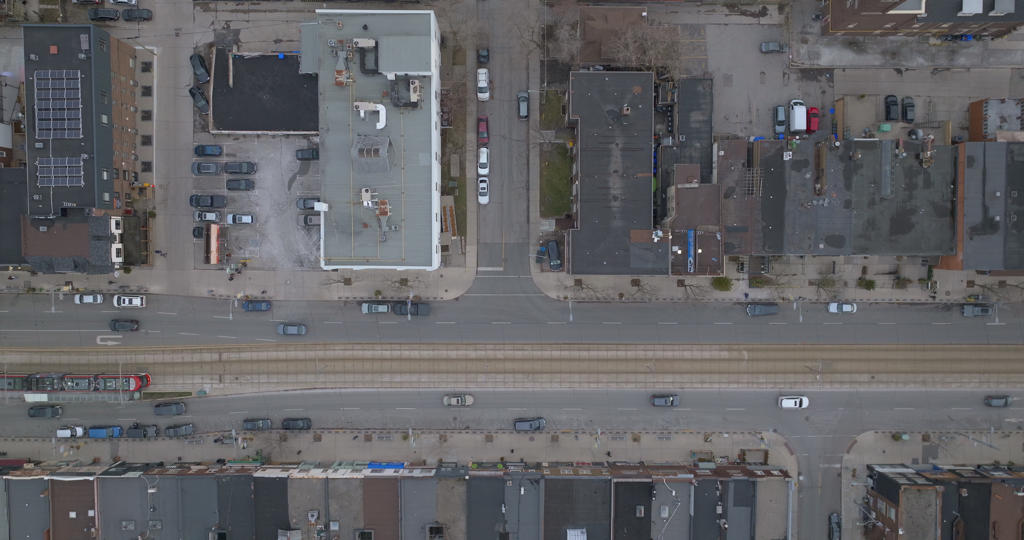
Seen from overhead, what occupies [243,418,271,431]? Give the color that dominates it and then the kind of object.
gray vehicle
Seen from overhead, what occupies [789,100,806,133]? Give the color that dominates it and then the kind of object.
white vehicle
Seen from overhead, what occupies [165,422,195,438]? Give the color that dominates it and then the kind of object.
gray car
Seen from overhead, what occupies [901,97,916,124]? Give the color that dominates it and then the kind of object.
gray car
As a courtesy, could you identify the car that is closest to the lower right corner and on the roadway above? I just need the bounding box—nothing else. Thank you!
[983,395,1012,409]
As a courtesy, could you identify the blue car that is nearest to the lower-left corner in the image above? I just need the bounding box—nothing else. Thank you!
[89,424,123,440]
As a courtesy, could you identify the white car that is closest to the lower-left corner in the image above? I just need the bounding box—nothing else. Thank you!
[56,425,87,439]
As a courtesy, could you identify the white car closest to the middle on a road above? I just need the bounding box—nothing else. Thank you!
[477,177,490,204]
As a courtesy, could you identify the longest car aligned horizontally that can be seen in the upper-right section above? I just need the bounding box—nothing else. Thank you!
[760,40,789,54]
